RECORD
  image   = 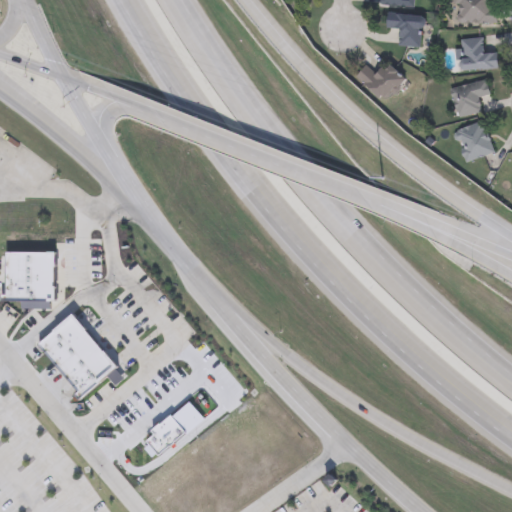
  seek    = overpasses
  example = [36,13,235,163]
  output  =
[78,70,512,282]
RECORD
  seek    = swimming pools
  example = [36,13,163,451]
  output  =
[445,48,460,72]
[406,46,428,65]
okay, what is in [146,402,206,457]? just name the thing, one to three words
building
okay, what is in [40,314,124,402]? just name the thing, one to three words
building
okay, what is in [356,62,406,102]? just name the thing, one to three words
house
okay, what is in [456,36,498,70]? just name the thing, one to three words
house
